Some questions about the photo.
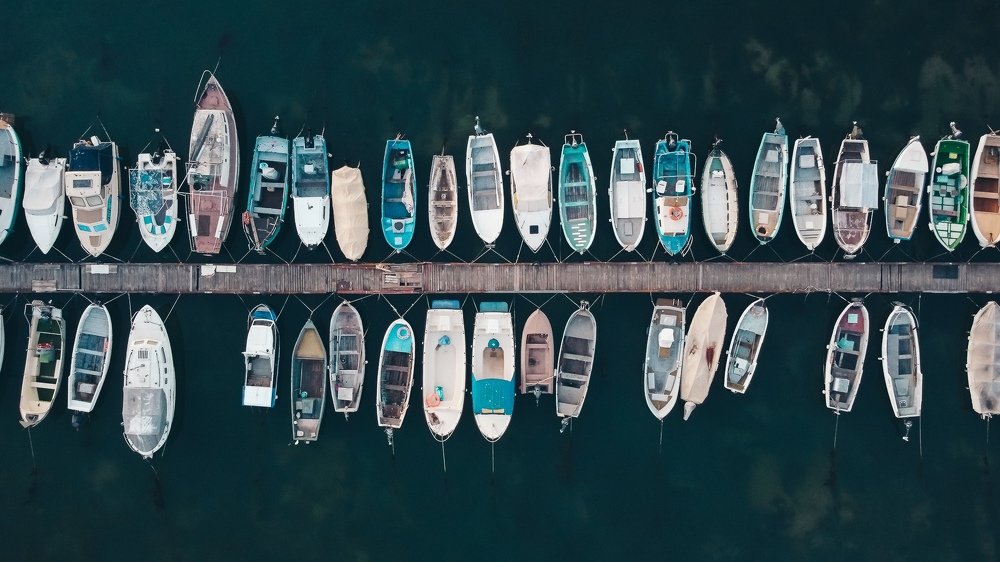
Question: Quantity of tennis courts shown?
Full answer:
The picture shows no tennis courts.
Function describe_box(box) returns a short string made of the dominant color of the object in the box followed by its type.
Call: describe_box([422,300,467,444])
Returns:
white boat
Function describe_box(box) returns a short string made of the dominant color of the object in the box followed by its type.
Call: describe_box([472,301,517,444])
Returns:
white boat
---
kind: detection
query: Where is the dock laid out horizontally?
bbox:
[0,262,1000,294]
